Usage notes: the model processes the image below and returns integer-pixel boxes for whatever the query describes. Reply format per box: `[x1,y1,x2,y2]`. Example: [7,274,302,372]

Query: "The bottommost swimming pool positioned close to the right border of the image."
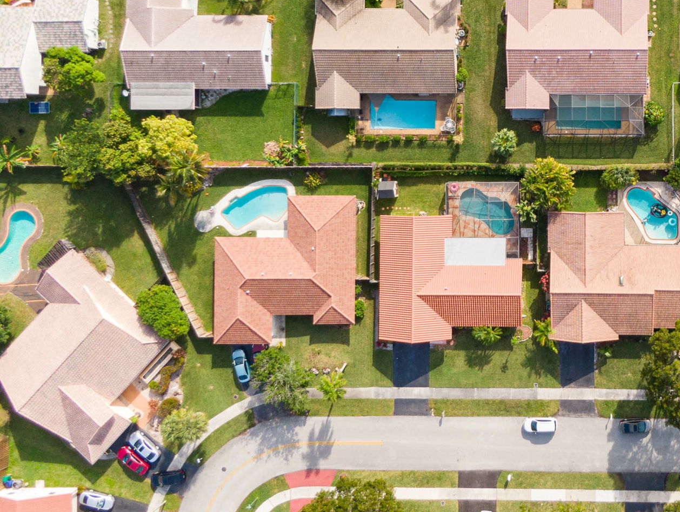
[622,183,680,244]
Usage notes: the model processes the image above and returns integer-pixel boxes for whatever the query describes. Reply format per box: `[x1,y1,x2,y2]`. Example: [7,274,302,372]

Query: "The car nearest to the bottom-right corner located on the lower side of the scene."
[618,418,650,434]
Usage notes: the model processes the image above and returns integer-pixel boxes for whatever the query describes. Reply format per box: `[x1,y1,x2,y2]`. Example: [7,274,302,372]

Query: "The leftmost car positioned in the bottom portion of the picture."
[81,491,116,511]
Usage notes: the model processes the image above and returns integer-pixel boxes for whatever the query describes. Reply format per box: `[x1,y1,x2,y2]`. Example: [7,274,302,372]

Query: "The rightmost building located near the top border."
[506,0,650,119]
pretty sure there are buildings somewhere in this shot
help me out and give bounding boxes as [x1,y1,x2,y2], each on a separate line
[373,182,397,200]
[213,195,358,344]
[506,0,650,119]
[0,249,175,465]
[548,212,680,344]
[311,0,461,116]
[0,484,84,512]
[0,0,101,105]
[378,214,523,344]
[119,0,274,110]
